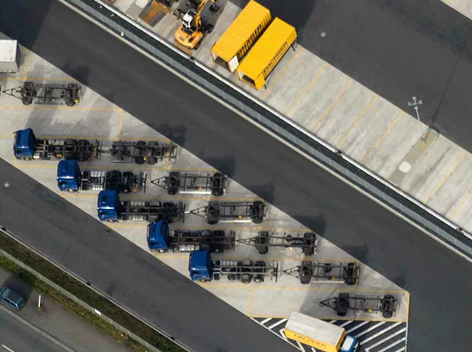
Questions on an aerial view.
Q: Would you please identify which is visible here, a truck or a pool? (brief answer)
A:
truck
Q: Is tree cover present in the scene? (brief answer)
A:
No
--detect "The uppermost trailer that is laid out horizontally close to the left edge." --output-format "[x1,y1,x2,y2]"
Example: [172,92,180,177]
[2,83,84,106]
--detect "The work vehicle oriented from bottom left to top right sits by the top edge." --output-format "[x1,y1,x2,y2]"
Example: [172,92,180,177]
[167,0,227,53]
